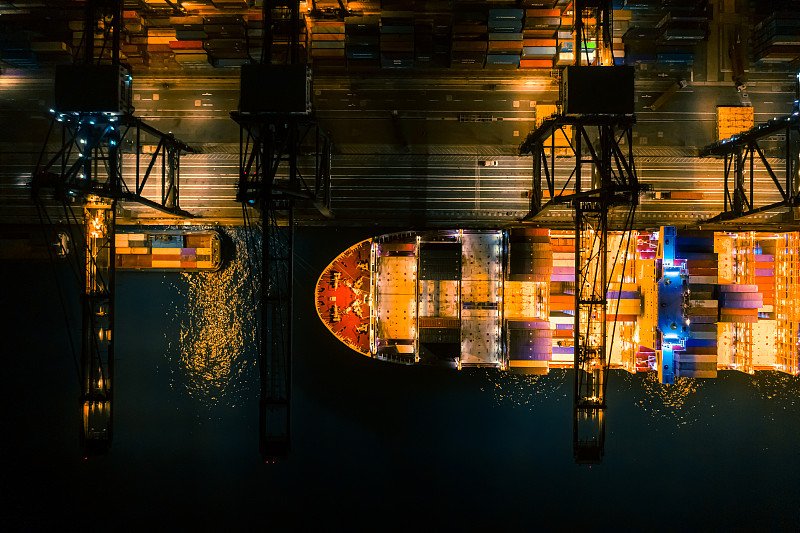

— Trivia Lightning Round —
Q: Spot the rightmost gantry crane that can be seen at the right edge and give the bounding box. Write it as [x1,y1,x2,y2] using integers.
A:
[702,76,800,220]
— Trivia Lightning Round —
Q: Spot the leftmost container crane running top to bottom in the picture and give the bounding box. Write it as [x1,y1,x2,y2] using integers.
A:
[24,0,200,461]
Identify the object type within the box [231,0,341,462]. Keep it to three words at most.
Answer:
container crane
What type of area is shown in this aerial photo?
port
